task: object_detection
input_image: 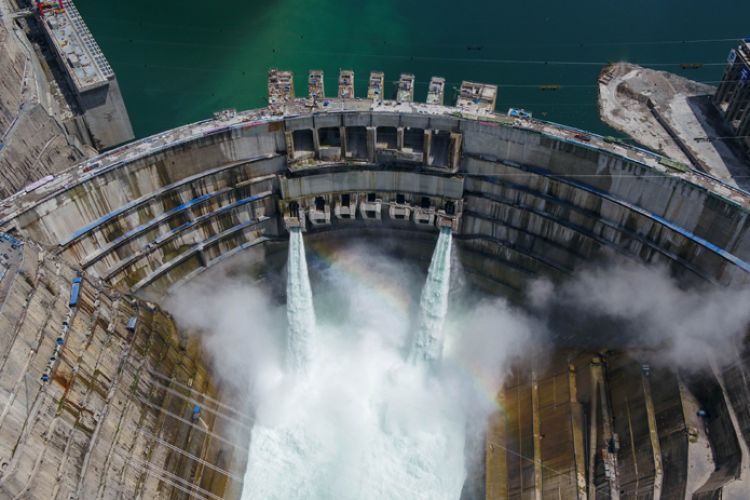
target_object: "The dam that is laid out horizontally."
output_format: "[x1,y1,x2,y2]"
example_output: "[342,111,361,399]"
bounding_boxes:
[0,70,750,352]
